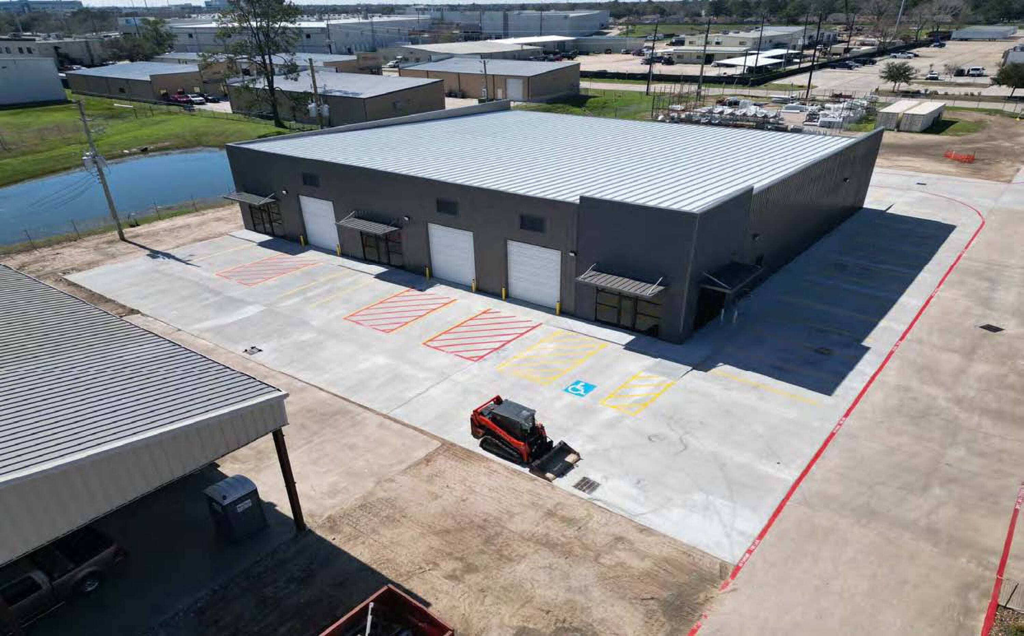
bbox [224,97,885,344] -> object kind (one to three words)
building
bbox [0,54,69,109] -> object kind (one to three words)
building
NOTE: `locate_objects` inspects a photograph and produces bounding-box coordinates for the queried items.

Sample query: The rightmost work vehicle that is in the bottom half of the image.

[473,396,581,481]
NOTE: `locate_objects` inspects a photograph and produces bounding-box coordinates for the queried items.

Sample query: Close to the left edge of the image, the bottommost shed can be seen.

[0,265,306,567]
